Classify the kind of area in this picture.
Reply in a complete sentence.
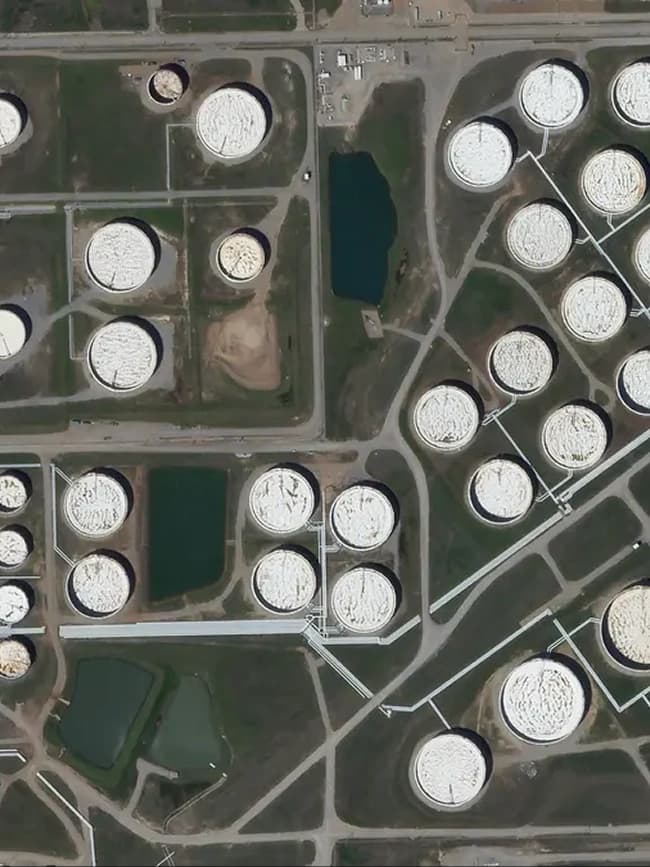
What you see here is an industrial area.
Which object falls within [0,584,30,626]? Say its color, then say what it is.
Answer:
white storage tank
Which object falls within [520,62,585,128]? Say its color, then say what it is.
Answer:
white storage tank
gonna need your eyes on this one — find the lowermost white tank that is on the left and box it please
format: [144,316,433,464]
[0,638,31,680]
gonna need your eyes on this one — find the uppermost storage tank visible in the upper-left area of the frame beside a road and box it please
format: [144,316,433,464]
[147,69,184,106]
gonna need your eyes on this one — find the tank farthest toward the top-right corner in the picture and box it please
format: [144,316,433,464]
[611,61,650,128]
